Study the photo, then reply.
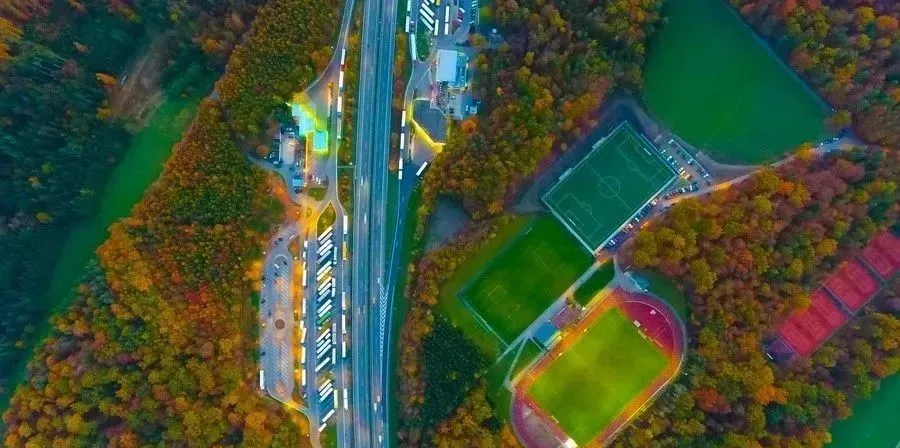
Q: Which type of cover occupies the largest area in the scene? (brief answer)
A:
trees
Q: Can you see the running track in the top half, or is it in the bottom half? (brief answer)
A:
bottom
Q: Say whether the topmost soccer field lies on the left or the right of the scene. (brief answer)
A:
right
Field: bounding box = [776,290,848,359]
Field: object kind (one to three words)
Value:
tennis court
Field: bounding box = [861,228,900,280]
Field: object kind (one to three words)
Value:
tennis court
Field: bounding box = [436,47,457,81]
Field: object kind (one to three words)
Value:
building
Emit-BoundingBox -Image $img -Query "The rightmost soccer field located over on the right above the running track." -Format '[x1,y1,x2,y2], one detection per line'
[541,120,678,254]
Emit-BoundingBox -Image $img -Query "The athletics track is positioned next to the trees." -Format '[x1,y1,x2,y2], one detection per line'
[511,290,688,448]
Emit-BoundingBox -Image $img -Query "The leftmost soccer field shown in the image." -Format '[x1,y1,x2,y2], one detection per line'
[458,213,593,348]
